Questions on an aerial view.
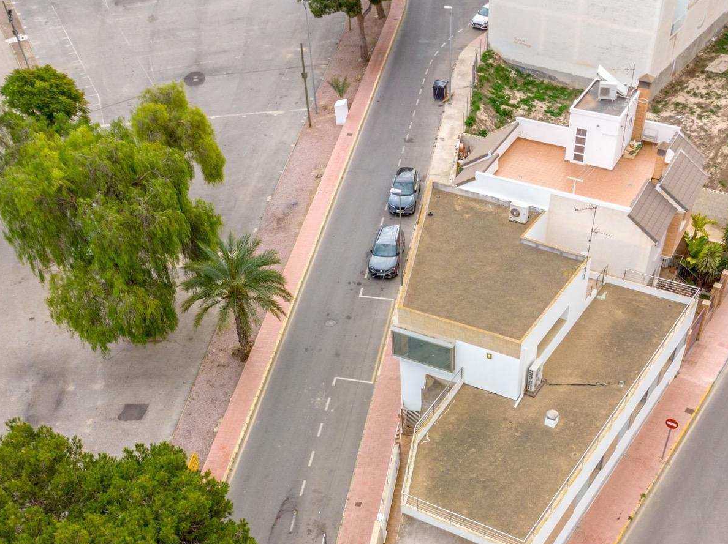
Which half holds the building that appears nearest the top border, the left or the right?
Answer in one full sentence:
You can find the building that appears nearest the top border on the right side of the picture.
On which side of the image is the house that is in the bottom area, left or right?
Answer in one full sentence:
You can find the house that is in the bottom area on the right side of the picture.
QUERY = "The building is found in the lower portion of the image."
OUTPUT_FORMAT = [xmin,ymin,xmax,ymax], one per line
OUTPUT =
[370,181,700,544]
